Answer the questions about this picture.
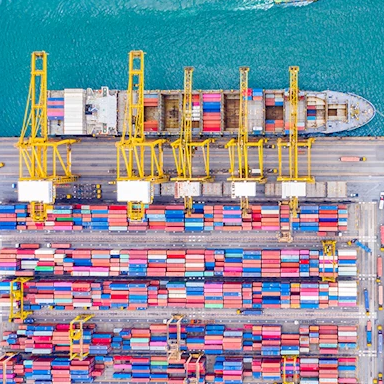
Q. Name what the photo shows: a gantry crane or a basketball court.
gantry crane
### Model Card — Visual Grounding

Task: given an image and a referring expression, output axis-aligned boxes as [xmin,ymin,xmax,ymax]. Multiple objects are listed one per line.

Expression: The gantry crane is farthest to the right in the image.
[317,241,336,286]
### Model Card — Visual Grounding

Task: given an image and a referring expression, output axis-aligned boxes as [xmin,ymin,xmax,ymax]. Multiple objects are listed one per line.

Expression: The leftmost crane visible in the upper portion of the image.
[16,50,87,228]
